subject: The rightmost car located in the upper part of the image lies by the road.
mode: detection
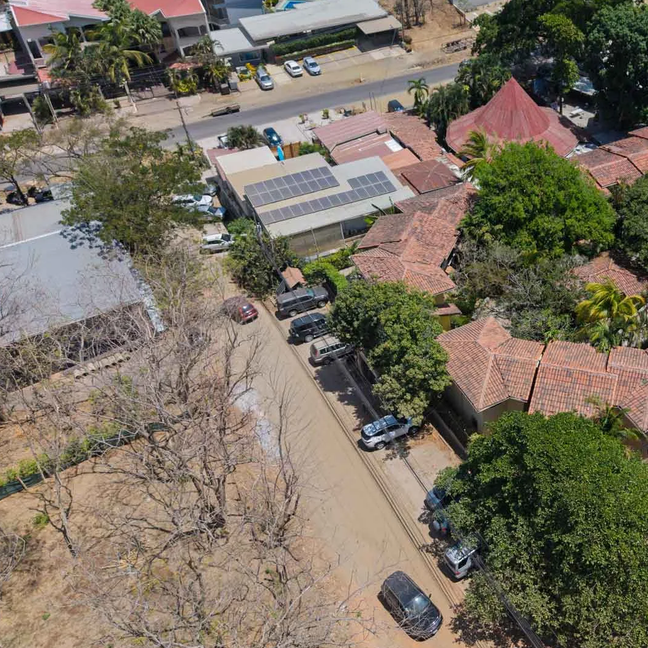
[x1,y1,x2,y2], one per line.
[383,88,406,112]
